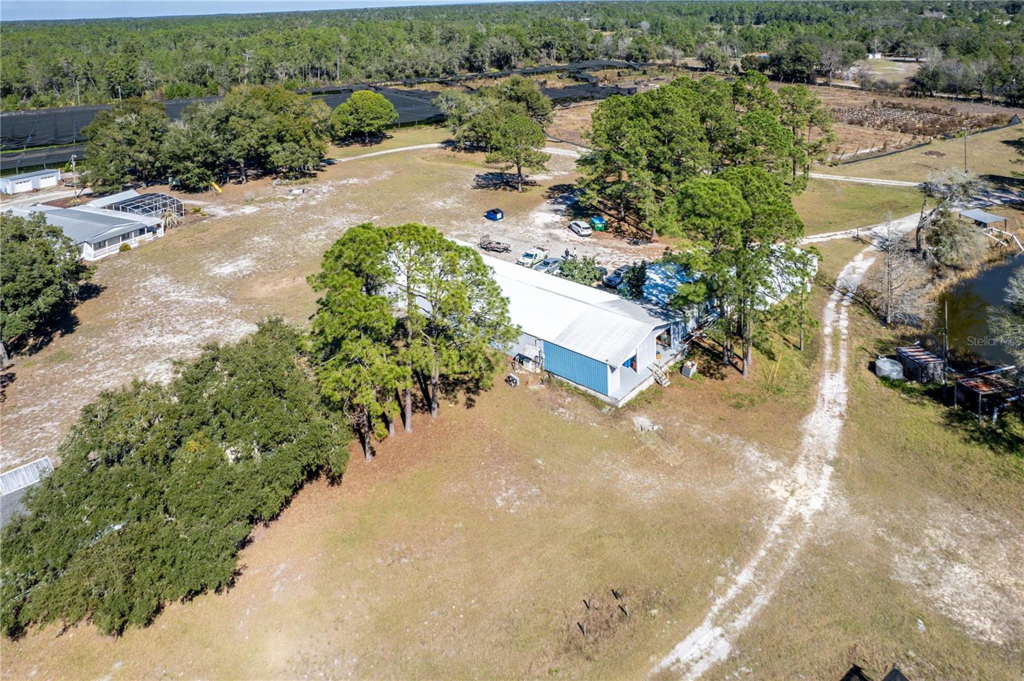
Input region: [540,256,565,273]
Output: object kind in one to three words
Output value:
car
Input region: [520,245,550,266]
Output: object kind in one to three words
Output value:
truck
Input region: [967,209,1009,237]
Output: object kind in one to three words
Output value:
building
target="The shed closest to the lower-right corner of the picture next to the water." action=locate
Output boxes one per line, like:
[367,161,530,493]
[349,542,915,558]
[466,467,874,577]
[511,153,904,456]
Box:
[893,342,948,383]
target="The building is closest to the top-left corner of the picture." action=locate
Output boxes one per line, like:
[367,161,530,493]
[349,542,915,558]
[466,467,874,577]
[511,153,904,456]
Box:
[0,164,60,194]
